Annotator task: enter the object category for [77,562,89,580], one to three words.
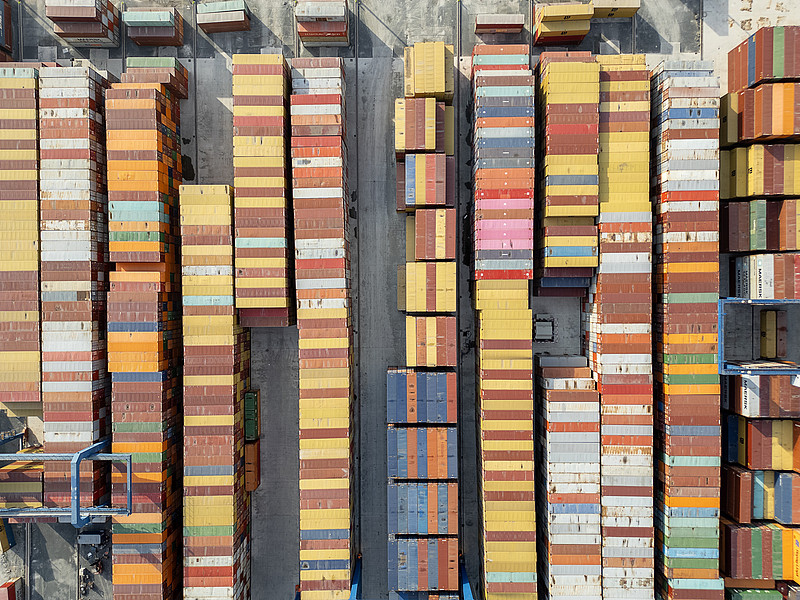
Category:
vehicle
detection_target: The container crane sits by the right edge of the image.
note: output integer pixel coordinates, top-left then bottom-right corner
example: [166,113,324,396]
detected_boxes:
[714,298,800,373]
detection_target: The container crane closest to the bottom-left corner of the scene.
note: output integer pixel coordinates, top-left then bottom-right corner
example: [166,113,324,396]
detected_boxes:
[0,420,137,529]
